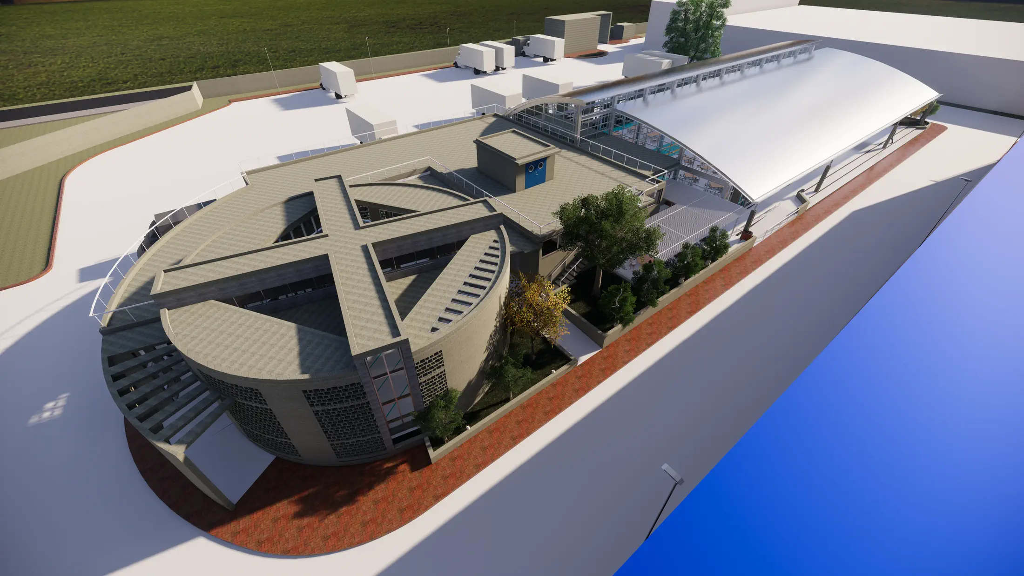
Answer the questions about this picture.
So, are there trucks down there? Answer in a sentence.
Yes, a truck is visible in the scene.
